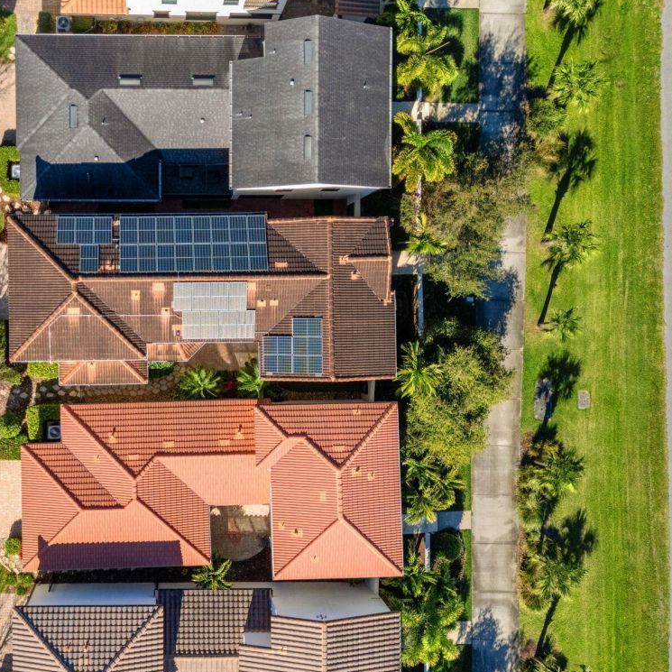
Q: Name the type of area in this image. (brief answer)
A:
residential area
